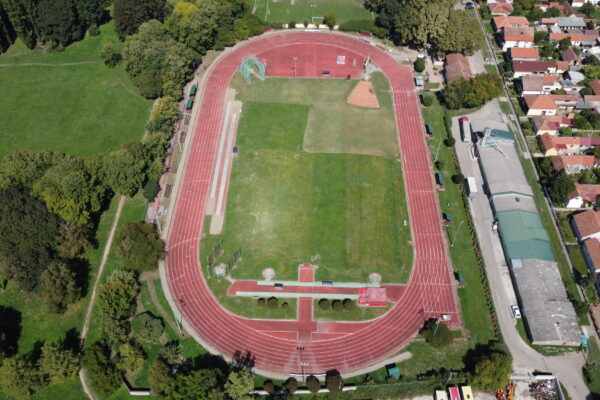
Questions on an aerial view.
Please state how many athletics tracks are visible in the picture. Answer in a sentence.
The picture shows just 1 athletics track.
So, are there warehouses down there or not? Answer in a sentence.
Yes, there is a warehouse in the image.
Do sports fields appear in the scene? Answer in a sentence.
Yes, there is a sports field in the image.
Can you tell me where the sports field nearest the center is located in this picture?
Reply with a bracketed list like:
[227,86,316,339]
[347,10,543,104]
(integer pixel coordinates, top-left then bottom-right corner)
[198,51,414,322]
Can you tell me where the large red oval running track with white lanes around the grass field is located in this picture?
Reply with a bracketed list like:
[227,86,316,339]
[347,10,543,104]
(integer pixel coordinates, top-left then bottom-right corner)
[159,30,468,383]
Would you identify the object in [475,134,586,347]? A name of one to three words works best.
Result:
warehouse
